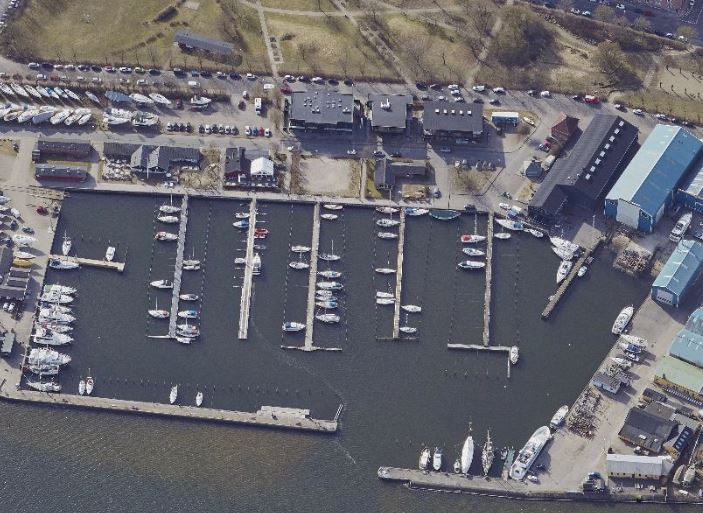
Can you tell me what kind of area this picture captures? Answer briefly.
port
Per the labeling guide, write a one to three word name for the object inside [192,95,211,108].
boat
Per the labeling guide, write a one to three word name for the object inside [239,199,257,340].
pier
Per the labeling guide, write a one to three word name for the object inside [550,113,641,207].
building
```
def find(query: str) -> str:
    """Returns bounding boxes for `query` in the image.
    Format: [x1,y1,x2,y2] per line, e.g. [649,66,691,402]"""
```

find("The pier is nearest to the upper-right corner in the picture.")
[573,222,602,254]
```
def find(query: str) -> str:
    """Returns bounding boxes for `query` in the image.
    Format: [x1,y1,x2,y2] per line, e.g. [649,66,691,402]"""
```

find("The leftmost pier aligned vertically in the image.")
[169,195,188,337]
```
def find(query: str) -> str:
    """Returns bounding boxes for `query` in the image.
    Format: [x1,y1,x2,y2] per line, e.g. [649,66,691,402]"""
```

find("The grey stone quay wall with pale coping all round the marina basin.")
[0,186,703,498]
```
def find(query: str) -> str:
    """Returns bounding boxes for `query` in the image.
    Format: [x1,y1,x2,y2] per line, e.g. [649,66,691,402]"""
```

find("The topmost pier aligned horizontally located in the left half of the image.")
[49,254,125,271]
